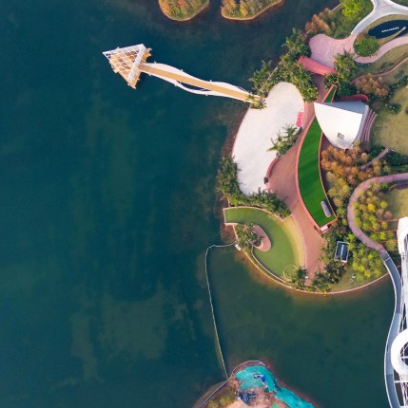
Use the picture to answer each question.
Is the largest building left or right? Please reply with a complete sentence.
The largest building appears in the right half of the scene.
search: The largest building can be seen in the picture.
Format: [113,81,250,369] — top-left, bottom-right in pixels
[313,99,366,149]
